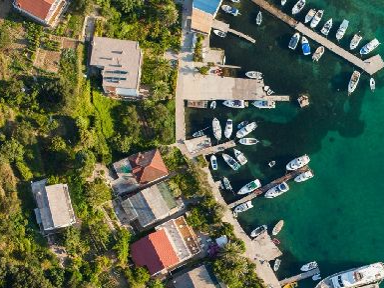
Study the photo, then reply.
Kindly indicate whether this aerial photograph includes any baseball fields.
No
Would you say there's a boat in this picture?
Yes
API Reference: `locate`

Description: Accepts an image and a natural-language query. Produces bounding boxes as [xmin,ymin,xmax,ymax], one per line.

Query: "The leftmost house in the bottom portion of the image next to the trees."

[31,180,84,231]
